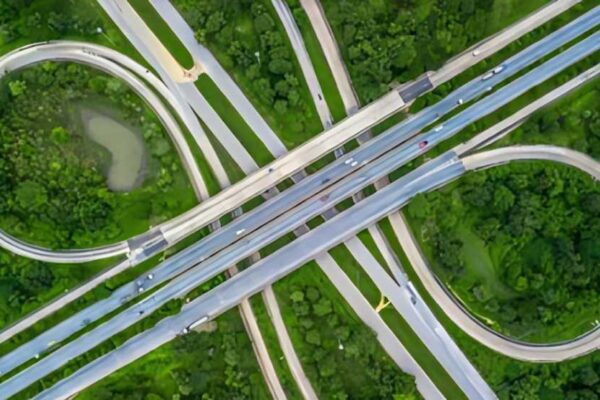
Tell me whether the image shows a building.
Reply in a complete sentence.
No, this view has no building in it.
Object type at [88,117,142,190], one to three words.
pond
